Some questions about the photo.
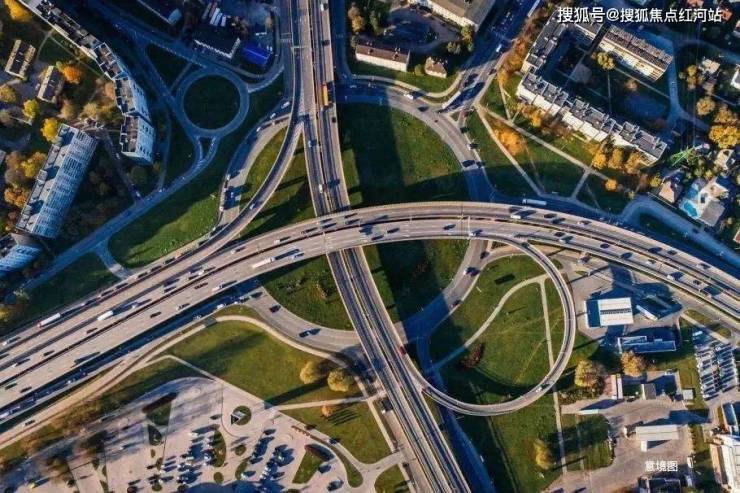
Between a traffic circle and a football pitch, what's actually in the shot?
traffic circle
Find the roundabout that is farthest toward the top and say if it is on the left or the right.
left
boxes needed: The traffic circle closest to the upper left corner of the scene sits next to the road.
[176,66,248,138]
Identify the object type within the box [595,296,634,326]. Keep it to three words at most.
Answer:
building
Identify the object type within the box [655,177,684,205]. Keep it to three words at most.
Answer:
house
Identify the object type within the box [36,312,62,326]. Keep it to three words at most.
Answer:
vehicle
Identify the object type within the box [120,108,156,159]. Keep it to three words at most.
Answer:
building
